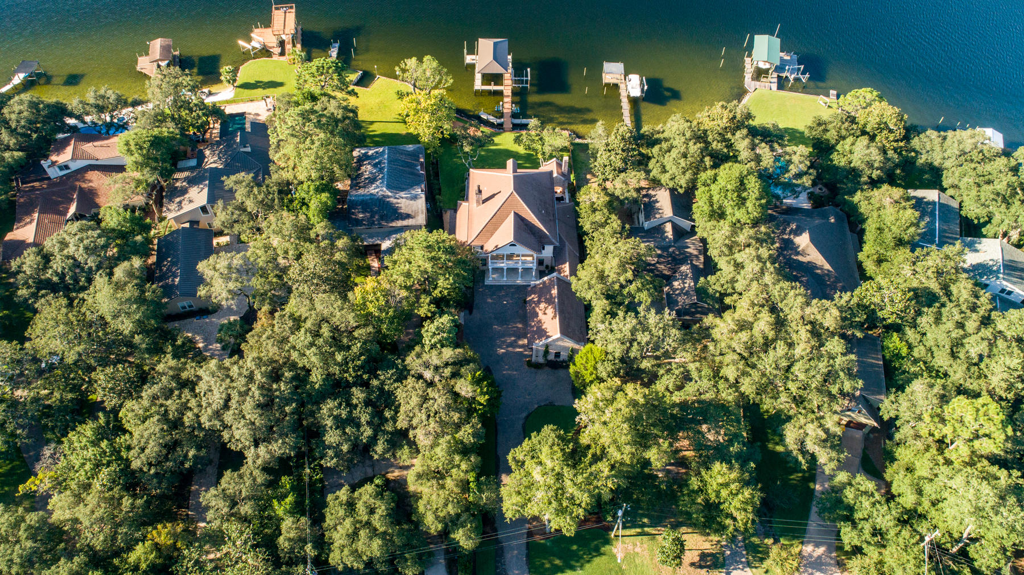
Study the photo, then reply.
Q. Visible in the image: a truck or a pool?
pool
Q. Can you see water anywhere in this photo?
Yes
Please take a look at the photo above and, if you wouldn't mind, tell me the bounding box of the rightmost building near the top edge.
[743,20,799,92]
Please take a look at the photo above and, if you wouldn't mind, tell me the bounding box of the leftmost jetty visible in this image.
[238,0,303,64]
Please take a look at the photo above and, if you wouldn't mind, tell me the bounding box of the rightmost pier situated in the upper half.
[603,51,632,129]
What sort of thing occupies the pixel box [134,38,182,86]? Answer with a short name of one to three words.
building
